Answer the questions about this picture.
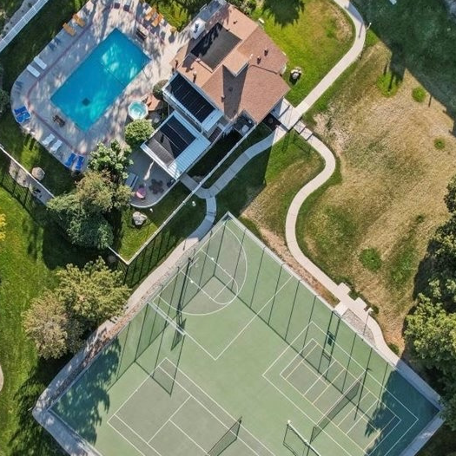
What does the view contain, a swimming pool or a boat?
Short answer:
swimming pool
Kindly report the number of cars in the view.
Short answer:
zero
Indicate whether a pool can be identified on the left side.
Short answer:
Yes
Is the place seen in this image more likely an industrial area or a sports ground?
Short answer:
sports ground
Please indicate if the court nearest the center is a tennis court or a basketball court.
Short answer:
basketball court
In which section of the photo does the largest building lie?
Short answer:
top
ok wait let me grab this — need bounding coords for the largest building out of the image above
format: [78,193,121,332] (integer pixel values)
[169,3,290,133]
